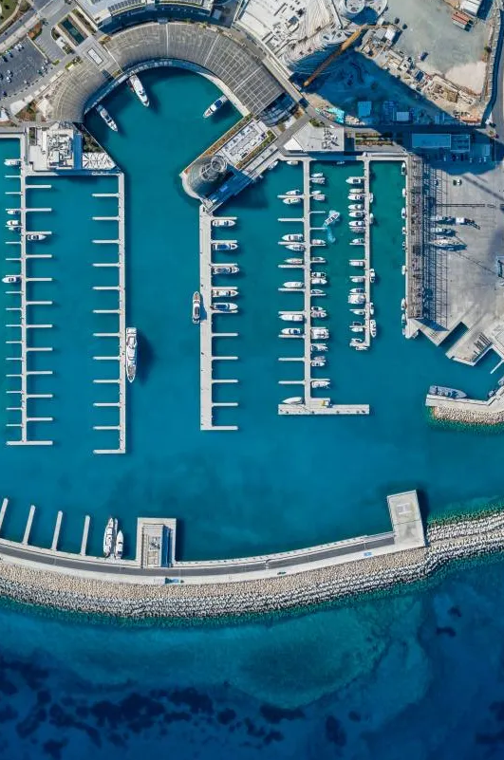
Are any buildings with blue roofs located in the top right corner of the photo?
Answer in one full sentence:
Yes, there is a building with a blue roof in the top right corner of the photo.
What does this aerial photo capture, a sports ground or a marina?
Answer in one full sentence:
This looks like a marina.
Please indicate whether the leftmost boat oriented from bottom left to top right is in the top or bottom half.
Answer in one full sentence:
The leftmost boat oriented from bottom left to top right sits in the top half of the picture.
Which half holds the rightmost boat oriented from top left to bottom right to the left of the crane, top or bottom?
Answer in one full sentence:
The rightmost boat oriented from top left to bottom right to the left of the crane is in the top half of the image.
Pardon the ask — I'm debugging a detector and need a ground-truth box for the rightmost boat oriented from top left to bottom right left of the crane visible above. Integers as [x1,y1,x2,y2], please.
[125,73,148,105]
